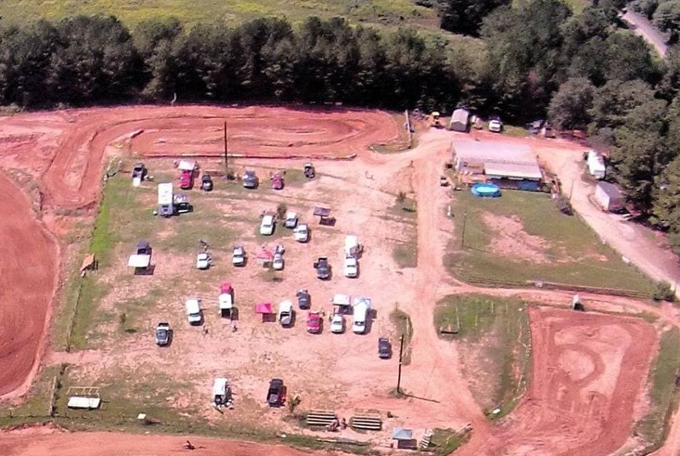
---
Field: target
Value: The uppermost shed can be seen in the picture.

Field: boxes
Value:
[450,113,469,135]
